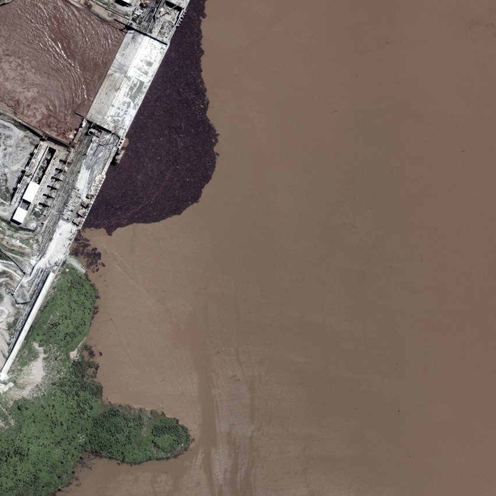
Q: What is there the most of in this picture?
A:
water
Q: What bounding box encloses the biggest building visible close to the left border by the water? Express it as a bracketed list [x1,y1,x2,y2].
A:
[3,142,70,225]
